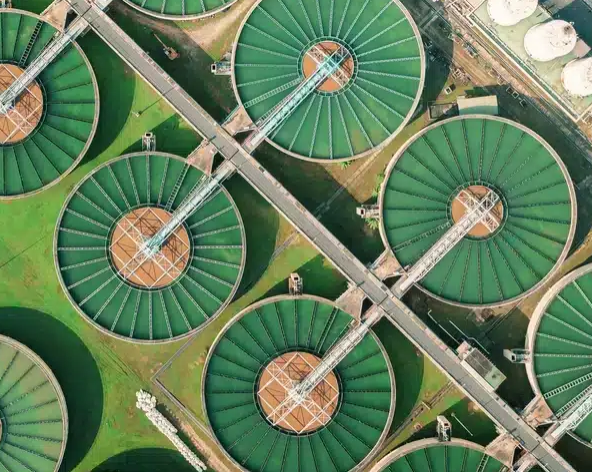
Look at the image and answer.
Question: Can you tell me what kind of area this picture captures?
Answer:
industrial area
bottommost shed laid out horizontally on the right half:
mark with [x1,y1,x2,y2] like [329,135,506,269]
[456,95,499,114]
